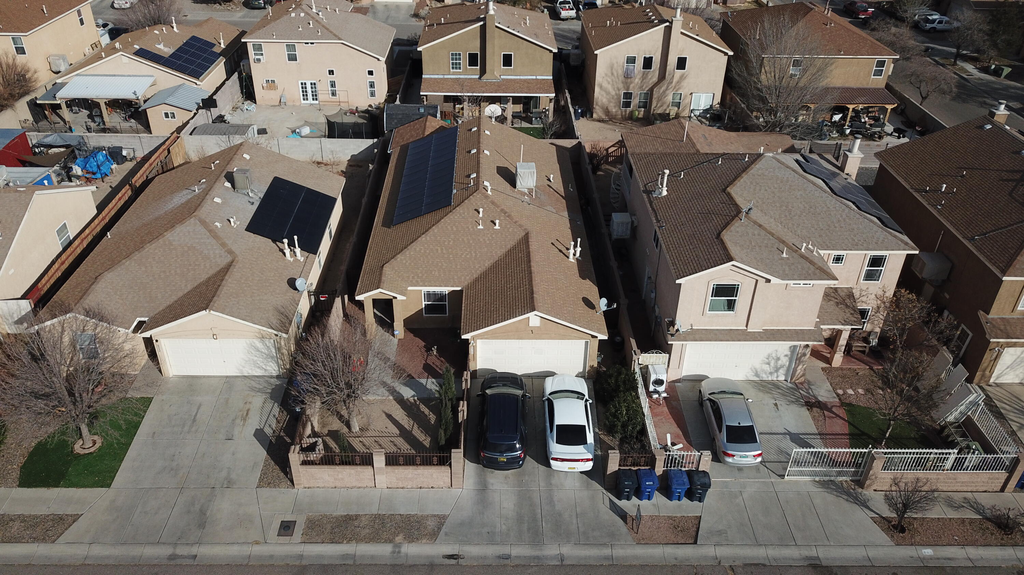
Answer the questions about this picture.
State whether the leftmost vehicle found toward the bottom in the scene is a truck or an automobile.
automobile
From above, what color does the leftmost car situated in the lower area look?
black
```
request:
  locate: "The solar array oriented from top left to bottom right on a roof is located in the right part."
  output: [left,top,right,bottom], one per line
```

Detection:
[796,150,879,209]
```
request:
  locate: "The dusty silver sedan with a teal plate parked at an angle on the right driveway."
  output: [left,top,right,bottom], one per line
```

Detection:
[699,379,766,472]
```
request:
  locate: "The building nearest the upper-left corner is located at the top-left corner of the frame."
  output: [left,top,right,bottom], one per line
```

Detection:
[0,0,112,95]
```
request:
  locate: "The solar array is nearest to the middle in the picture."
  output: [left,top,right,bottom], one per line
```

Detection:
[390,122,457,222]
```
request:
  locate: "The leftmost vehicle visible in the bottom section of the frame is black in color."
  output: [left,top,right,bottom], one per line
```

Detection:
[474,376,531,474]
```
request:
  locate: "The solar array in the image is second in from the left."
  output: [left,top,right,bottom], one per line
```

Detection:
[246,174,338,250]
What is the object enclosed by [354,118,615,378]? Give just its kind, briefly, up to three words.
house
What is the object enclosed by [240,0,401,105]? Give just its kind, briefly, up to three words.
house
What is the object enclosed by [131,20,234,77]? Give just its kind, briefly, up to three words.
solar array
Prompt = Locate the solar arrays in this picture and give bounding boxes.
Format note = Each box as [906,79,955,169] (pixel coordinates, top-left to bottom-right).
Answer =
[390,122,457,222]
[796,150,879,209]
[246,174,338,250]
[131,20,234,77]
